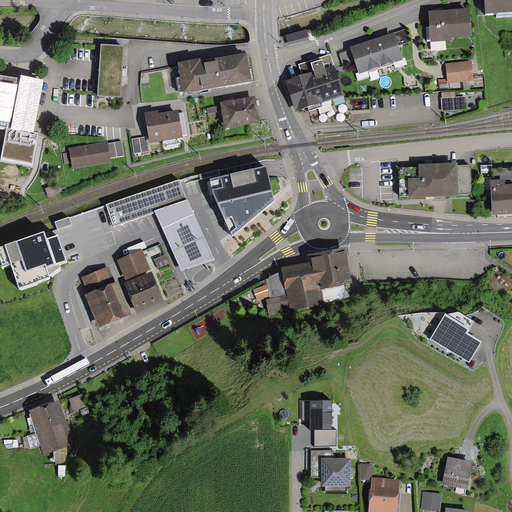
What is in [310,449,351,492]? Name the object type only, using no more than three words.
house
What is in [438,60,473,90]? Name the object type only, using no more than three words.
house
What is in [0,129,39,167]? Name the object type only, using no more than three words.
building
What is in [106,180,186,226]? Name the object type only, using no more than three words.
building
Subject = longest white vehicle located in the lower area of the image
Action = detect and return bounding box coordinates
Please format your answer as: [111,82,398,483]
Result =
[46,356,92,385]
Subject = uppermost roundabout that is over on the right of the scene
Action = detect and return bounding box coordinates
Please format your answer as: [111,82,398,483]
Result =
[294,197,353,250]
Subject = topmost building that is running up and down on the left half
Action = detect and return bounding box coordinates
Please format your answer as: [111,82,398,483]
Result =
[98,44,124,98]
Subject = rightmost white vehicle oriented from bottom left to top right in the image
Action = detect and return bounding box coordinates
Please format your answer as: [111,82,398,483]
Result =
[280,218,294,234]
